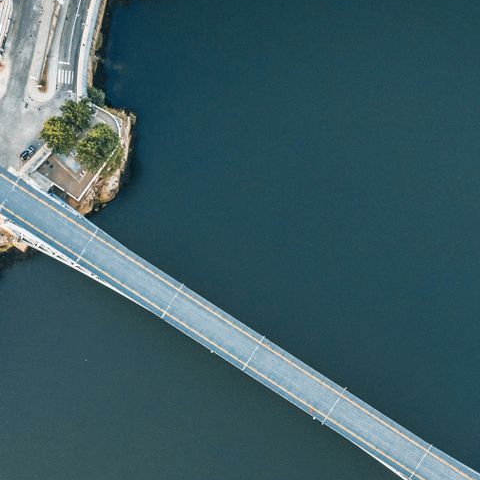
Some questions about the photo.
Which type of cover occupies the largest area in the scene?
water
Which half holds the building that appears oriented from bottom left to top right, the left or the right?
left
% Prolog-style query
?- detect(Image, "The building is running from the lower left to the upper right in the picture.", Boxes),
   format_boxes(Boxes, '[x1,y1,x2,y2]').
[21,145,54,177]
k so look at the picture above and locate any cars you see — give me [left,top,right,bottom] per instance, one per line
[20,145,35,159]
